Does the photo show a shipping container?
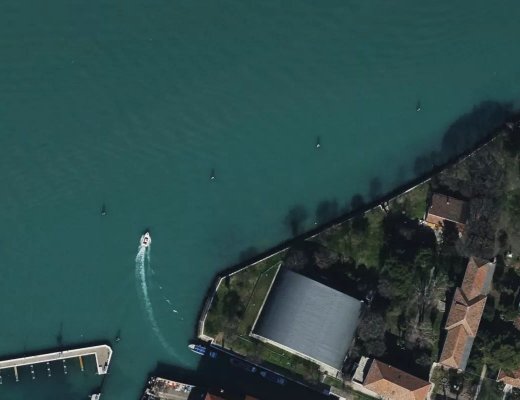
No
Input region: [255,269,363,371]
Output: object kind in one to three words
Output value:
building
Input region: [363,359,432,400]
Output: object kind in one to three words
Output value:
house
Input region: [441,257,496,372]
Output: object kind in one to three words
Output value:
building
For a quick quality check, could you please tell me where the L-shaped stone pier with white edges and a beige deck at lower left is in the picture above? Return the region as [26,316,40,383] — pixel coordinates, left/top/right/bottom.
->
[0,344,112,375]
